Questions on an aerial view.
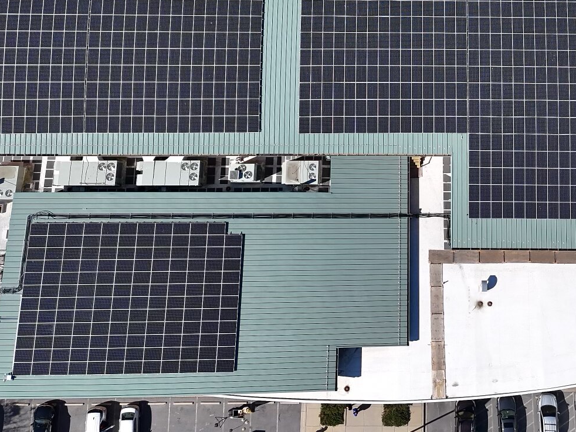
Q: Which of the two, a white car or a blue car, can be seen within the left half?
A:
white car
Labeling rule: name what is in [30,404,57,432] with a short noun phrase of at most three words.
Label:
car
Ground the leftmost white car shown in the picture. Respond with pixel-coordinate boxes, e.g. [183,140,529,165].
[81,407,112,432]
